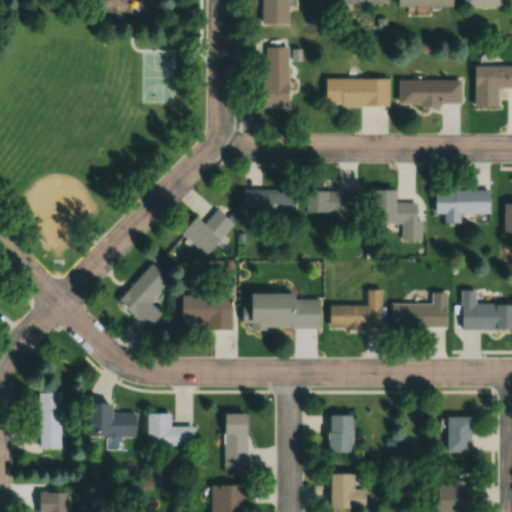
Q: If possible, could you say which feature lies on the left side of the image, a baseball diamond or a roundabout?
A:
baseball diamond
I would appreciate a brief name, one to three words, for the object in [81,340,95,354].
vehicle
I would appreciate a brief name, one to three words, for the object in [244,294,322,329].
house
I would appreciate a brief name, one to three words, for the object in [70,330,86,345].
vehicle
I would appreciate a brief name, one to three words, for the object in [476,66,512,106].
house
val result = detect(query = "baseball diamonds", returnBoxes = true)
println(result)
[25,172,100,262]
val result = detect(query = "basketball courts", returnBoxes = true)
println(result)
[144,52,177,104]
